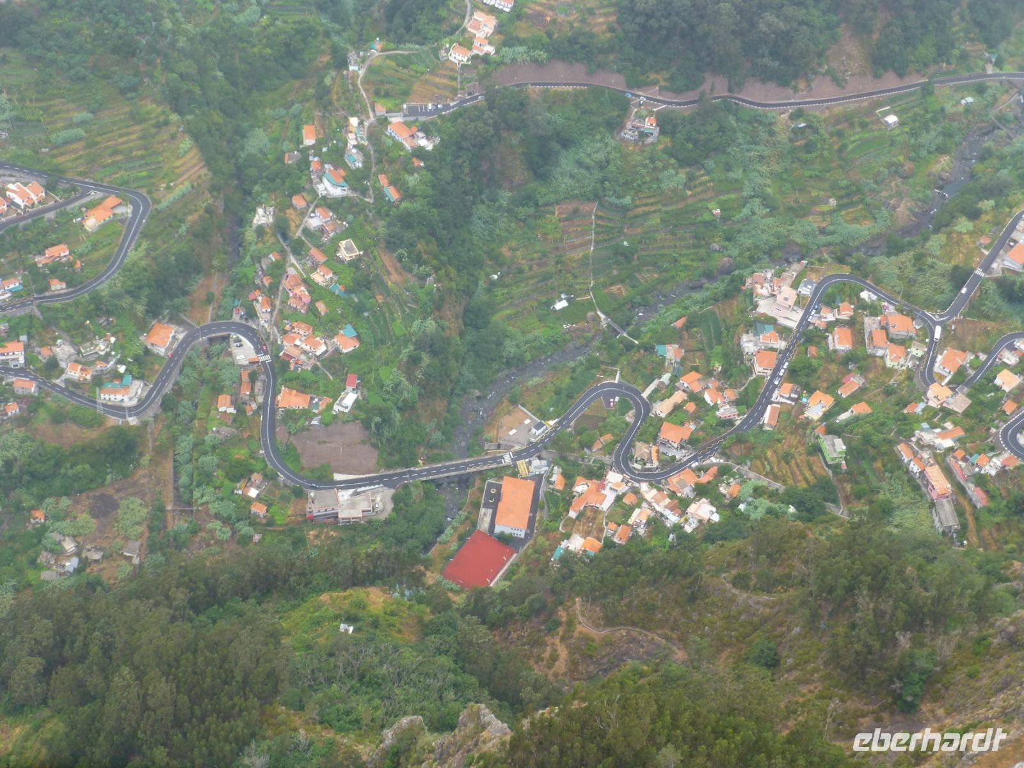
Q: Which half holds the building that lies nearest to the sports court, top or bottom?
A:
bottom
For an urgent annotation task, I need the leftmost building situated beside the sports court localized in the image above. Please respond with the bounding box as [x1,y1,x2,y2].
[494,476,540,537]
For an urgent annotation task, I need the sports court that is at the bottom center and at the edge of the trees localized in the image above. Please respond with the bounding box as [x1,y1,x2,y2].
[443,535,516,585]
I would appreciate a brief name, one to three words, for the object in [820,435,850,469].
building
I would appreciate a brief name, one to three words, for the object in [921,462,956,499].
building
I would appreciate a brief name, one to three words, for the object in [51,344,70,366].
shed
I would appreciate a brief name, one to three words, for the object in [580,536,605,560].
house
